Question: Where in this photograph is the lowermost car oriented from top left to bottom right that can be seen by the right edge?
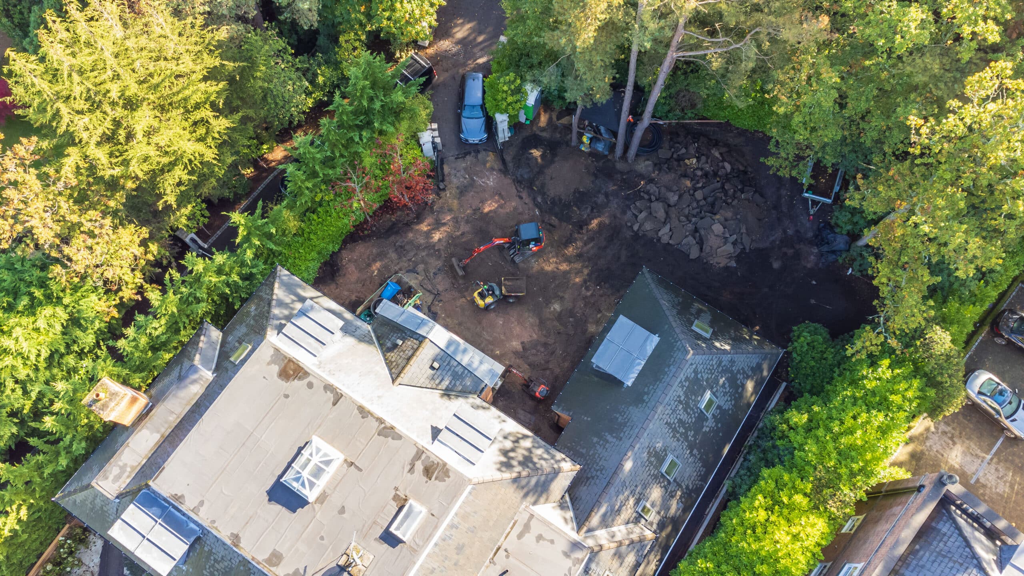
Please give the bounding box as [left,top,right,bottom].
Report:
[957,373,1024,447]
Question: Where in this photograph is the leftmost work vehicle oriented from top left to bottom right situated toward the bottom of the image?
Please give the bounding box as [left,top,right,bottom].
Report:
[505,368,551,406]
